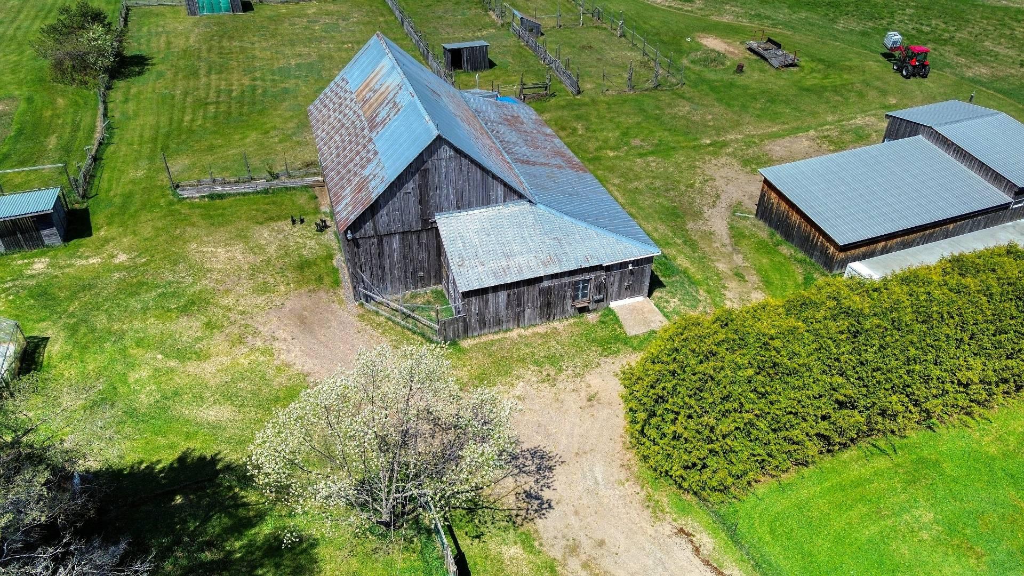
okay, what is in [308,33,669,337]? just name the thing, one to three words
barn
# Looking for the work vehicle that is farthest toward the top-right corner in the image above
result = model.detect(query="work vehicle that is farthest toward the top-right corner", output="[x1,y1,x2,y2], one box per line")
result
[892,40,939,79]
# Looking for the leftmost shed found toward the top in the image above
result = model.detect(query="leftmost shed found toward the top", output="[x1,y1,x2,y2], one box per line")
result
[0,177,73,254]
